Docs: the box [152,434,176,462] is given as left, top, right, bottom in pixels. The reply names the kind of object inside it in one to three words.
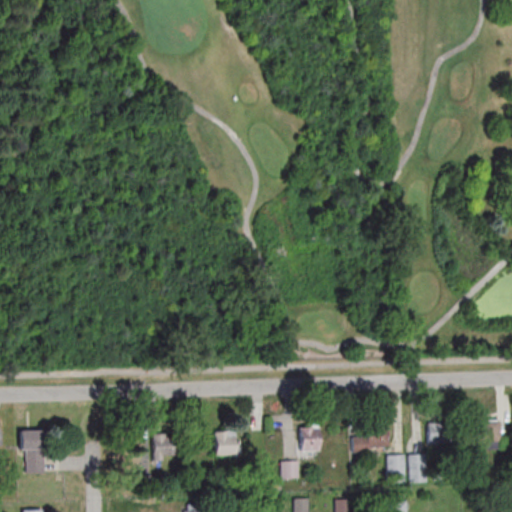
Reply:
house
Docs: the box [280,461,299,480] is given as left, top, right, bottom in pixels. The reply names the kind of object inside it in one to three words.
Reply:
building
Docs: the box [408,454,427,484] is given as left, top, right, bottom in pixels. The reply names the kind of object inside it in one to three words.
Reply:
building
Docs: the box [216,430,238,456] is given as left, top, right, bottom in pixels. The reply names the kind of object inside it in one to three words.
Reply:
house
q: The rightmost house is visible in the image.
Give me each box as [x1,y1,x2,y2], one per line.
[486,420,501,450]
